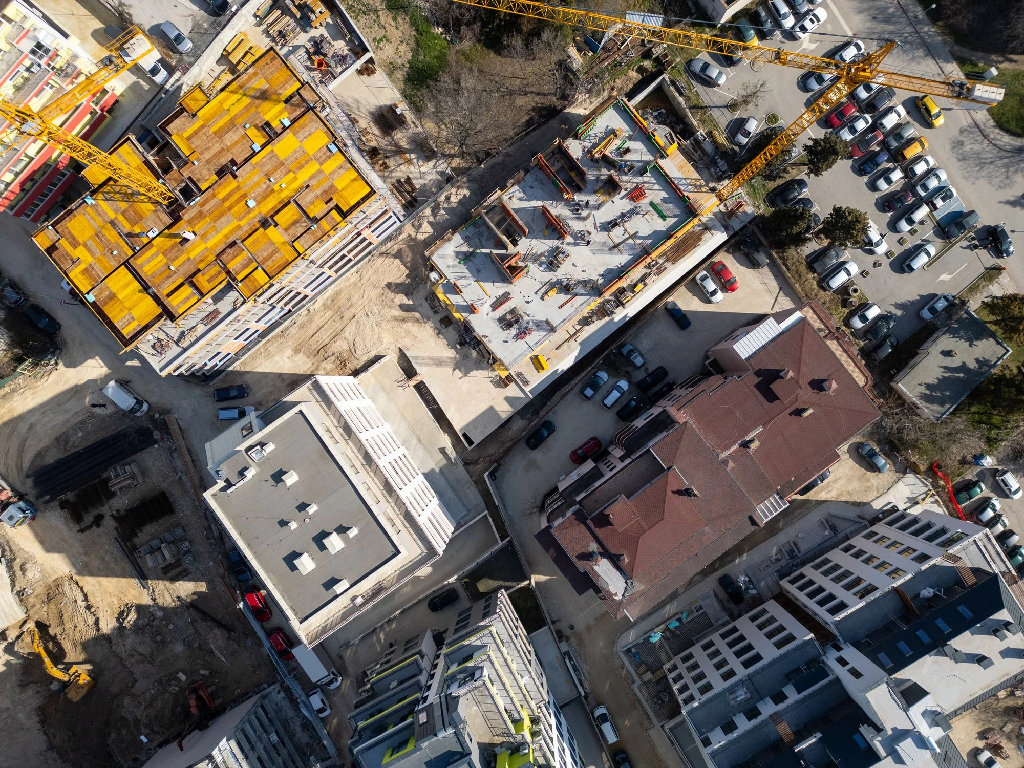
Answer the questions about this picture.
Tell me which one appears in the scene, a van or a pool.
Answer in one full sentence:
The one in the frame is a van.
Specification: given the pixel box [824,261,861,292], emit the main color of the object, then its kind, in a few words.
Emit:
white car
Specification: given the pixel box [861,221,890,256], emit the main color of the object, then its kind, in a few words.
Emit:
white car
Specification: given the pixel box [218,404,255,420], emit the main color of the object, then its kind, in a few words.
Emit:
blue car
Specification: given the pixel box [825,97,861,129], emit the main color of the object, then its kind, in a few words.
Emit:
red car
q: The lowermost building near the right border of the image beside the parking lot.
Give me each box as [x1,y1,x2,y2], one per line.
[659,506,1024,768]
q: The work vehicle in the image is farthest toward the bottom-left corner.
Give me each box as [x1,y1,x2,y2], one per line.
[27,621,97,703]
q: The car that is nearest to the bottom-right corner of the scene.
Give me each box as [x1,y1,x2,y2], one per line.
[974,748,1001,768]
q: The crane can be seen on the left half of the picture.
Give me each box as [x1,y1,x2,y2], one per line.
[0,25,178,211]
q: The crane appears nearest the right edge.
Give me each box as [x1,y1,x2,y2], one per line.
[450,0,1024,202]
